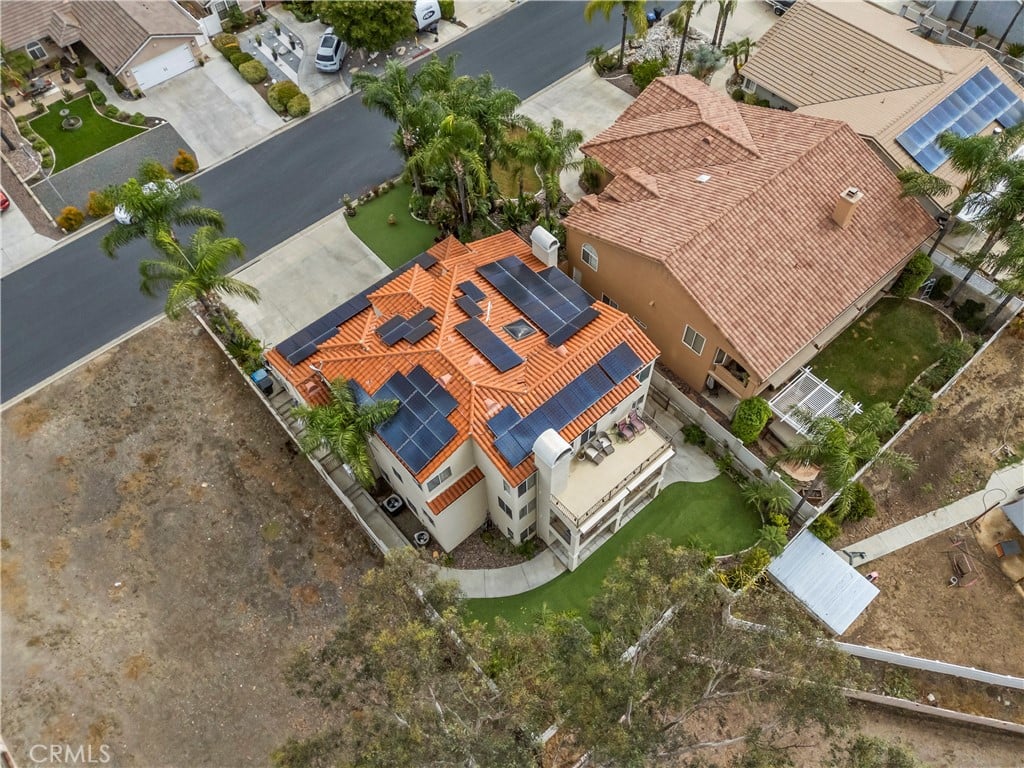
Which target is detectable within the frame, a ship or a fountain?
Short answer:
fountain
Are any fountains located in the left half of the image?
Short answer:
Yes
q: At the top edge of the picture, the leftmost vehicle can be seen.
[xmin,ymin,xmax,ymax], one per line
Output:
[310,34,344,71]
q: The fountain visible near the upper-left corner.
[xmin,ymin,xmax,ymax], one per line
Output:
[53,101,81,129]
